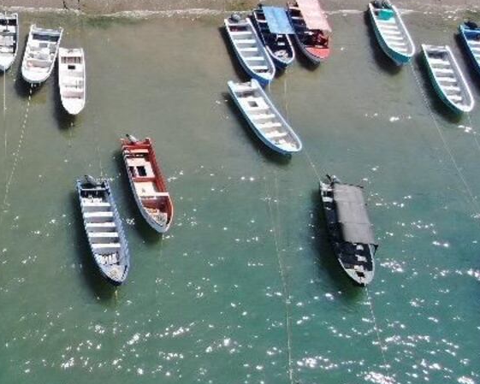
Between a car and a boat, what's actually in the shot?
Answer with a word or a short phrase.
boat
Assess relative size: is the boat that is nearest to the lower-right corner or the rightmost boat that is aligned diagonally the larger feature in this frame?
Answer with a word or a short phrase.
the boat that is nearest to the lower-right corner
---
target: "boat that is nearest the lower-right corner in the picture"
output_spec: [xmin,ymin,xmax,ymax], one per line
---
[311,173,375,286]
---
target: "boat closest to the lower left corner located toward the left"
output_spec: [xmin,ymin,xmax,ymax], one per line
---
[78,171,128,285]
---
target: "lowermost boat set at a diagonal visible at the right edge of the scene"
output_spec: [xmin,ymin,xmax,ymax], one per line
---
[418,44,474,116]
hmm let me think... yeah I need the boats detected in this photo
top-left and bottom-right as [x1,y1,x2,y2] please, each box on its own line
[311,173,375,286]
[78,171,128,285]
[418,44,474,116]
[58,48,87,116]
[224,13,277,81]
[287,0,332,63]
[22,26,61,85]
[458,20,480,82]
[366,0,415,64]
[253,6,296,65]
[228,80,299,154]
[122,136,174,232]
[0,14,19,72]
